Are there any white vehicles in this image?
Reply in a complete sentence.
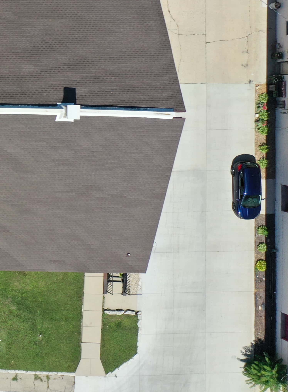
No, there isn't any white vehicle down there.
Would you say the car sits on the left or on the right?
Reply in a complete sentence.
The car is on the right side of the image.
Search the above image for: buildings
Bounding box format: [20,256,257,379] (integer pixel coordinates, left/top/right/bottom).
[278,0,288,392]
[0,0,186,273]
